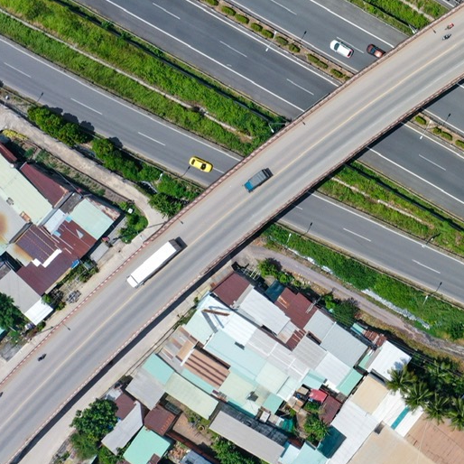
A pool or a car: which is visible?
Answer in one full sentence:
Visible in the photo is a car.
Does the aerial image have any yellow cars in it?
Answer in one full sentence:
Yes, there's a yellow car here.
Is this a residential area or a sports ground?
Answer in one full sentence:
The area seen from above is a residential area.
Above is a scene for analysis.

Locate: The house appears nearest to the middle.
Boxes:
[211,270,254,304]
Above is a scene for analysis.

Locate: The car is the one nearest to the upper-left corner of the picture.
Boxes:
[189,155,215,173]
